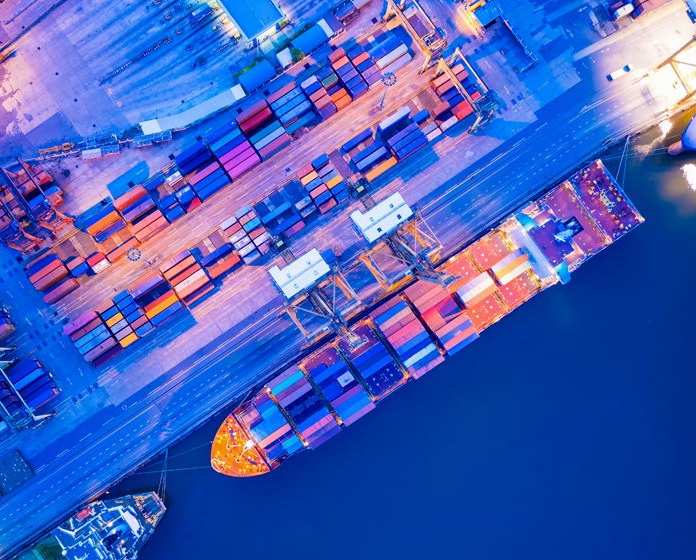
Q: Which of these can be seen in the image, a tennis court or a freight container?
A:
freight container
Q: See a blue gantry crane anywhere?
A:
Yes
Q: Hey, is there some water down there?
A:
Yes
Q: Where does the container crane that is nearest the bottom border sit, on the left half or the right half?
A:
left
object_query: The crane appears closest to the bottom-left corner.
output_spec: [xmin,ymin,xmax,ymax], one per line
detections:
[0,356,57,443]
